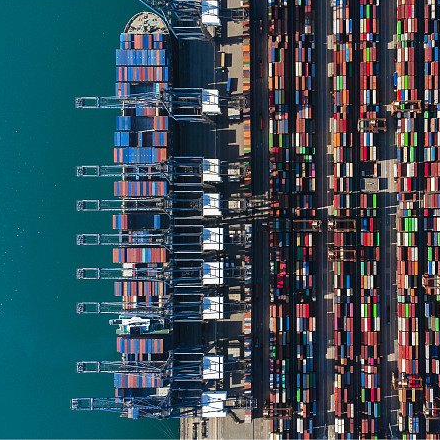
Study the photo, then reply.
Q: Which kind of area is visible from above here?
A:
port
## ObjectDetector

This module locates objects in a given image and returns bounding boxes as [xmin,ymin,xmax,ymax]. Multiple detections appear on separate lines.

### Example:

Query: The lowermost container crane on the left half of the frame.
[70,373,249,424]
